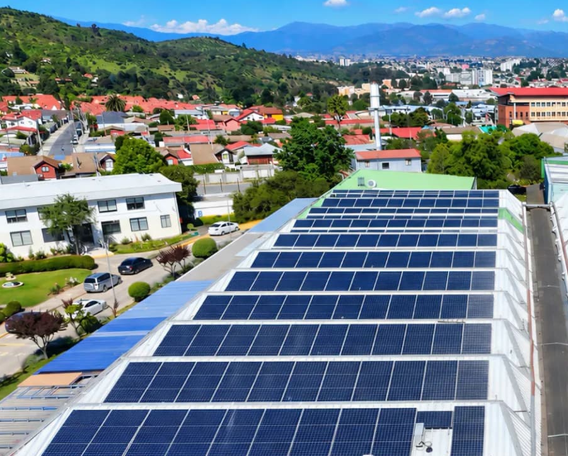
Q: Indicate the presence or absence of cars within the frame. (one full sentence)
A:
Yes, the frame does contain a car.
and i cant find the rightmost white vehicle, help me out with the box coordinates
[208,221,237,234]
